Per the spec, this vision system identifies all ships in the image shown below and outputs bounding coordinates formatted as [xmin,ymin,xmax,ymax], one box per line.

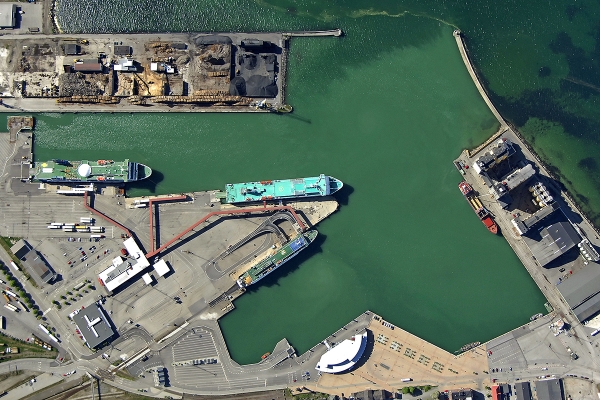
[35,159,152,183]
[238,229,319,289]
[455,180,499,234]
[226,174,343,204]
[460,339,482,353]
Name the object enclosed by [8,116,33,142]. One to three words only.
pier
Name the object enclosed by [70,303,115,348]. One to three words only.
building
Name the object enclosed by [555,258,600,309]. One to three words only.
building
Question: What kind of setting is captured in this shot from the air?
port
